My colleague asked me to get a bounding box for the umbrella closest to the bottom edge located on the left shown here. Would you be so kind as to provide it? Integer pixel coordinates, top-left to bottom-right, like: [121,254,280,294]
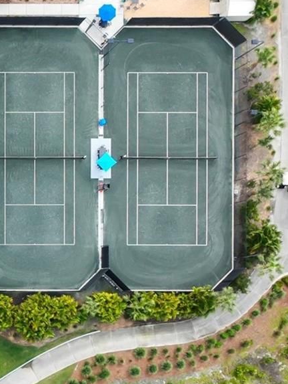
[95,151,116,172]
